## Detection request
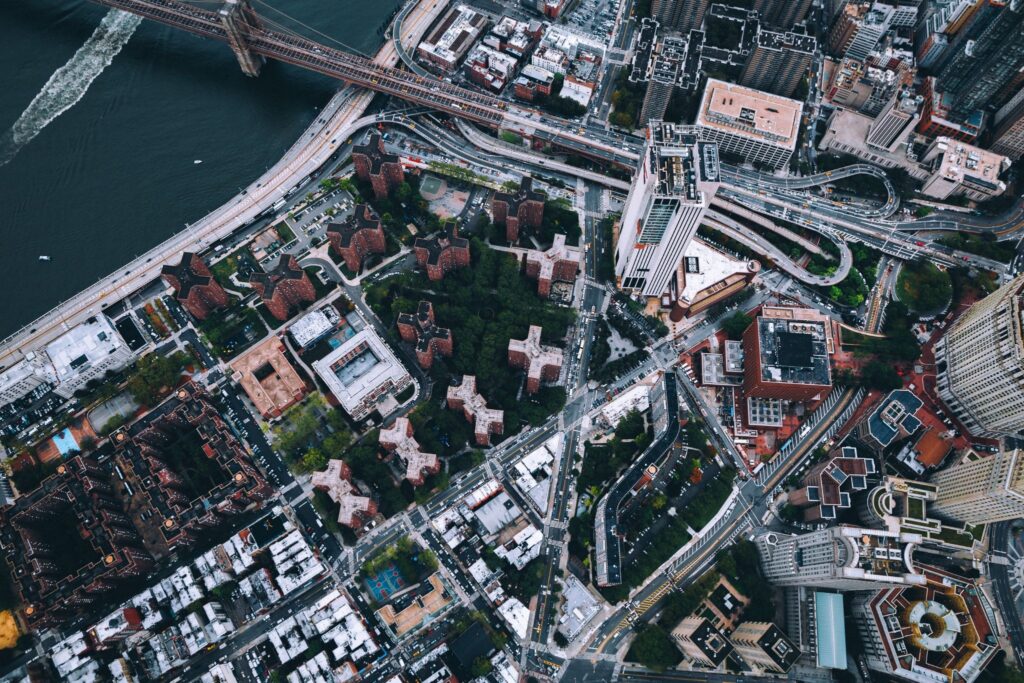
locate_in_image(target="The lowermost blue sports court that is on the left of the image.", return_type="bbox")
[366,559,407,602]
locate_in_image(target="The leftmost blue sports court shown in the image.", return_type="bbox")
[52,427,80,458]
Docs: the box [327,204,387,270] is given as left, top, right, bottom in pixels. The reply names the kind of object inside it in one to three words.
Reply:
building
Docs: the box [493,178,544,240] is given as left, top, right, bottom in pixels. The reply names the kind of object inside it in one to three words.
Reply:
building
